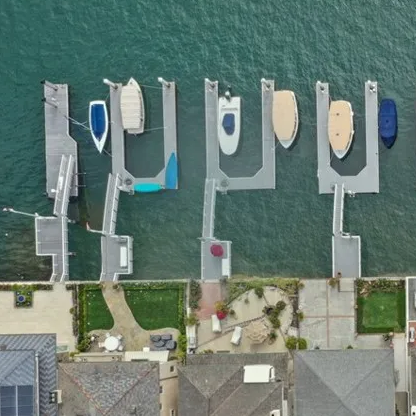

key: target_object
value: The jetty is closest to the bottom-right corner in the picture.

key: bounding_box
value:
[331,236,362,278]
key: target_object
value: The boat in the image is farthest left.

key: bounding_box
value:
[70,101,114,157]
